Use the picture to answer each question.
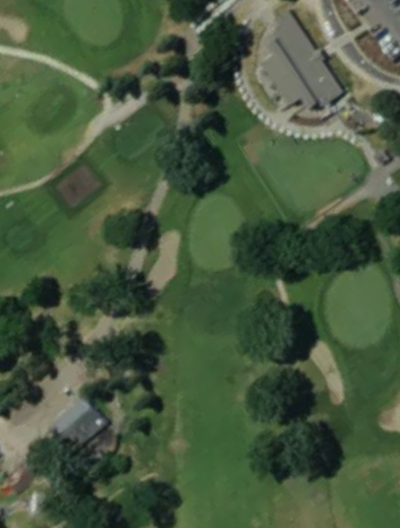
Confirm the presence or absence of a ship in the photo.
No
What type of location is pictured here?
golf course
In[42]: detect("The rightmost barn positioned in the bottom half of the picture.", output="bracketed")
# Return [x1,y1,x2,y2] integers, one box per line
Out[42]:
[53,400,110,444]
